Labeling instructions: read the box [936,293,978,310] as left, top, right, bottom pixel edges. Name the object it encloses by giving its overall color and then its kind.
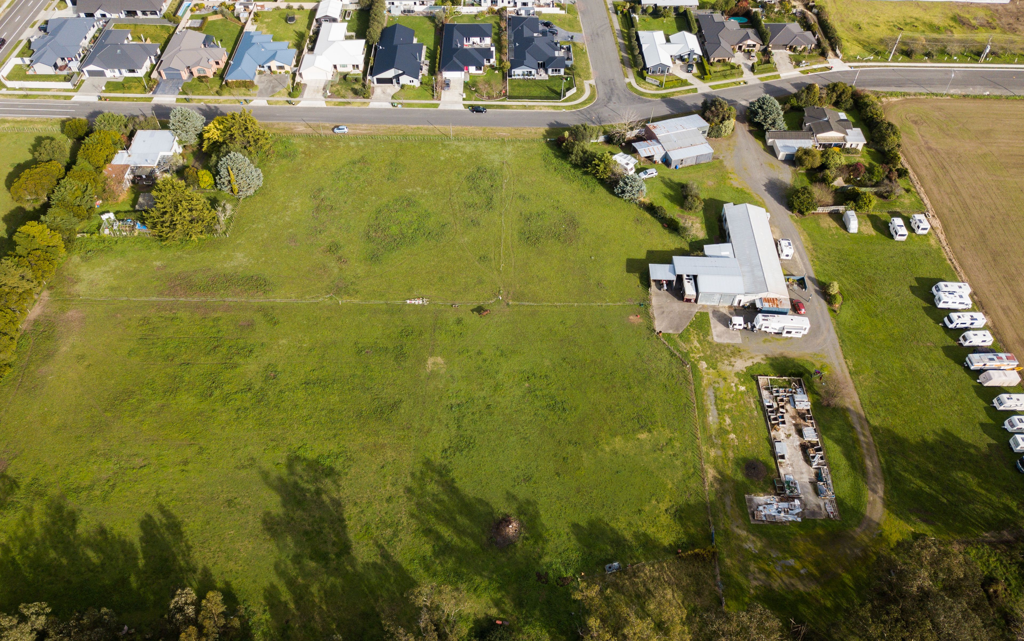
white camper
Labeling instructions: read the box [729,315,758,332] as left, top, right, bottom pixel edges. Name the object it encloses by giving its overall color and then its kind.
white vehicle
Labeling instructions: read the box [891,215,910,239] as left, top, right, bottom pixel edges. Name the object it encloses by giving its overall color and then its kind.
white camper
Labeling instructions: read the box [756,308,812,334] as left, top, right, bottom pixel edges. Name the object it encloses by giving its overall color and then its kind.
white vehicle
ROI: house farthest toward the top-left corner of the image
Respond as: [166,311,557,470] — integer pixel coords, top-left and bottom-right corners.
[30,18,97,74]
